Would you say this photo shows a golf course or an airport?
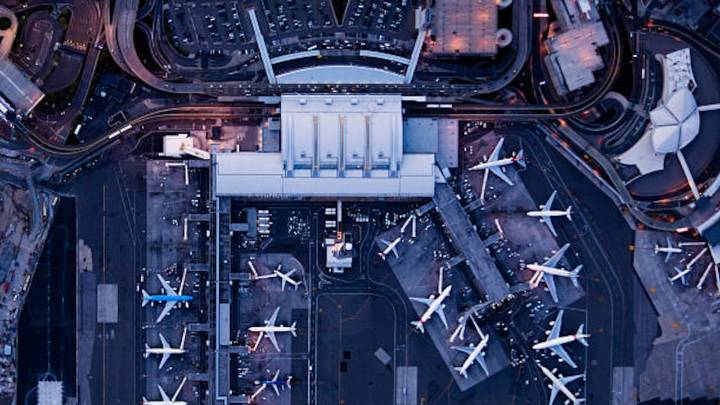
airport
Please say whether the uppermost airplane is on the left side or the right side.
right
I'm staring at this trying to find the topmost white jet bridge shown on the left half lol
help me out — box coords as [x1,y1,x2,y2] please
[165,162,189,186]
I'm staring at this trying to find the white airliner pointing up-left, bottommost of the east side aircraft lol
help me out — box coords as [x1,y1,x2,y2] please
[540,364,590,405]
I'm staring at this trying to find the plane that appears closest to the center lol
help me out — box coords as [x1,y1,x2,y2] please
[380,237,402,259]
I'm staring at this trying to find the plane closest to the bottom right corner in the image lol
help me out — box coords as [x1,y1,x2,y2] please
[669,267,690,284]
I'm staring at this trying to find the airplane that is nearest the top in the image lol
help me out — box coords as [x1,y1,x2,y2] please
[469,138,526,184]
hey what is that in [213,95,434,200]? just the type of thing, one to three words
building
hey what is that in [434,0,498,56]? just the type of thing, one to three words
building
